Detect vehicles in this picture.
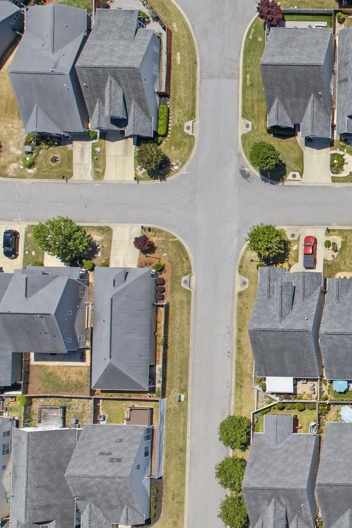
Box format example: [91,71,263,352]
[4,233,20,257]
[303,236,317,270]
